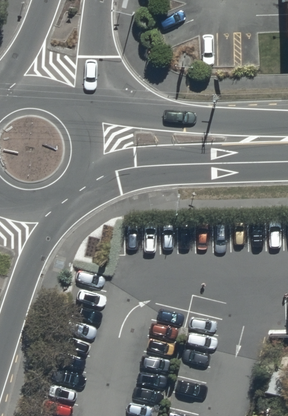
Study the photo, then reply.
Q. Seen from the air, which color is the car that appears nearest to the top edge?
blue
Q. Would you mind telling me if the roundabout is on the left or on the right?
left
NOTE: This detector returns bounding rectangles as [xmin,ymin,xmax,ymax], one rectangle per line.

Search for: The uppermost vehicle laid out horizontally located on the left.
[76,272,105,288]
